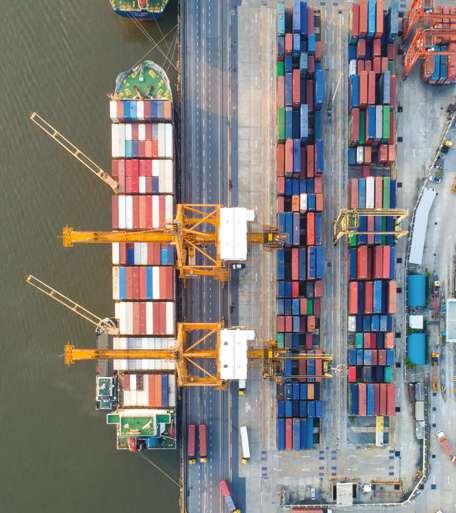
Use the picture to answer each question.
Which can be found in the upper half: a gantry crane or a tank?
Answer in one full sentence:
The one visible in the upper half is a gantry crane.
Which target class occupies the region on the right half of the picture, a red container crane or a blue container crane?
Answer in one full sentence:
Visible on the right half of the picture is a red container crane.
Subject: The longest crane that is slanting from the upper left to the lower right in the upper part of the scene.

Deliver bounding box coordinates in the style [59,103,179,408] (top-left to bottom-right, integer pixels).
[31,114,121,196]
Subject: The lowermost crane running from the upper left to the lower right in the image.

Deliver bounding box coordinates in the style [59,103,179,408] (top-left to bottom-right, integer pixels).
[26,276,119,338]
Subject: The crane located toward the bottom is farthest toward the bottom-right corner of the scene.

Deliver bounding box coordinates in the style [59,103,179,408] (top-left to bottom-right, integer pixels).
[263,351,334,379]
